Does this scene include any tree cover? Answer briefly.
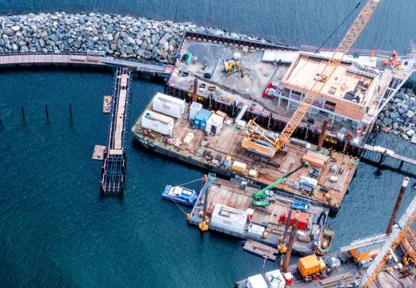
No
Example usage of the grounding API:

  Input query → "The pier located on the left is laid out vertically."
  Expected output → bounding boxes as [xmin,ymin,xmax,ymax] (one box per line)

[102,64,134,201]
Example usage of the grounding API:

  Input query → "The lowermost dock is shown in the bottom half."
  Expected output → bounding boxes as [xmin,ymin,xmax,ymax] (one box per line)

[242,241,279,264]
